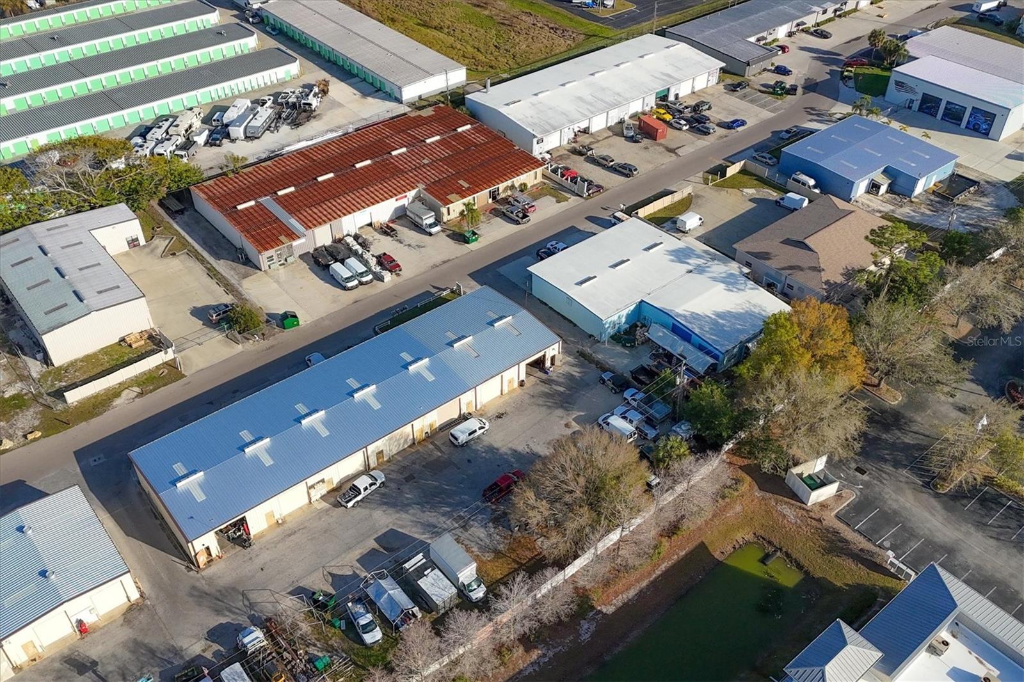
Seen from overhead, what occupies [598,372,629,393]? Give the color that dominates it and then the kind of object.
black car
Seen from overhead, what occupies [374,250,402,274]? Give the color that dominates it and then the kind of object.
red truck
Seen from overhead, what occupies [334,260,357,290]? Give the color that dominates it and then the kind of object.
white vehicle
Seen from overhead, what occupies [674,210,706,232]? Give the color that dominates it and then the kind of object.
white vehicle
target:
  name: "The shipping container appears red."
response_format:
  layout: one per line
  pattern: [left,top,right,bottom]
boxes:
[638,114,668,141]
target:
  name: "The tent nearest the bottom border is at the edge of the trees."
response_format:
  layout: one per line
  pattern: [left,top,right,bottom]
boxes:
[353,568,418,640]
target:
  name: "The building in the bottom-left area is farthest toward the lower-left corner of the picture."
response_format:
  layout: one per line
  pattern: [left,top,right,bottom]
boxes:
[0,483,136,669]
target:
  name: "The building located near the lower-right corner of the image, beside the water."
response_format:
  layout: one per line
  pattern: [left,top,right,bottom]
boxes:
[777,561,1024,682]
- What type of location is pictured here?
industrial area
